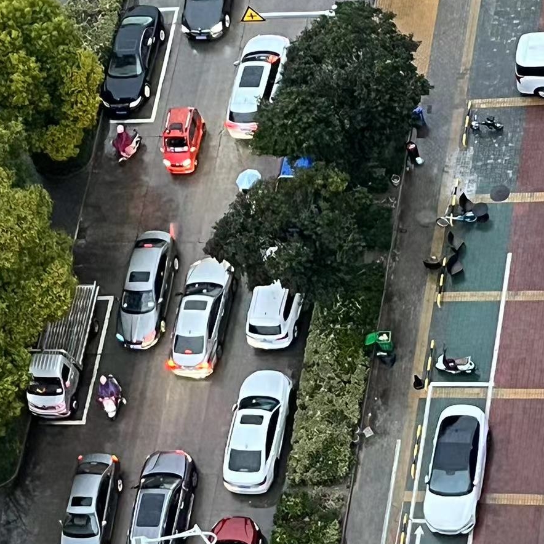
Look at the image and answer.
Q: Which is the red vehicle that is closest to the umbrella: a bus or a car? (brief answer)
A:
car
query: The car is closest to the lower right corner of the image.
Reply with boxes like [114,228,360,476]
[420,410,490,535]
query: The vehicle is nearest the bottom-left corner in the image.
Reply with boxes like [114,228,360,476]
[54,455,126,544]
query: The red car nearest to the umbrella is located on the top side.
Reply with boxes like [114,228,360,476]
[157,100,209,185]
